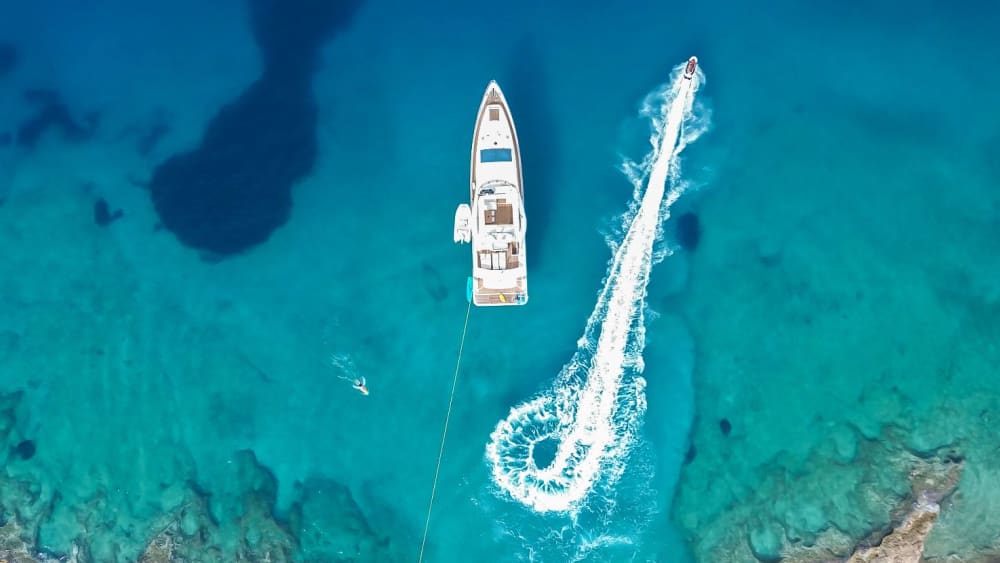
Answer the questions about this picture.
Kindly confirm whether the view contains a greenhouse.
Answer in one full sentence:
No, no greenhouse is visible in the scene.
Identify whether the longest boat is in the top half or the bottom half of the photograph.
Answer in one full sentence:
It is in the top half that the longest boat appears.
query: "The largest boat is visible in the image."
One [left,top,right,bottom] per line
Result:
[470,78,527,307]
